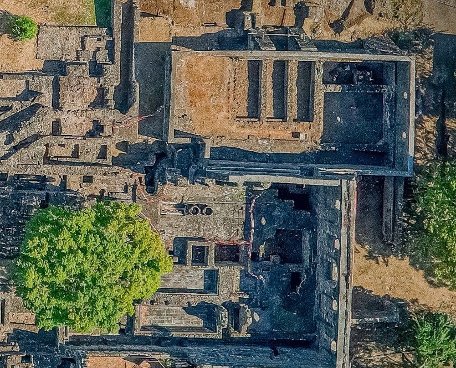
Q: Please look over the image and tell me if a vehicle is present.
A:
No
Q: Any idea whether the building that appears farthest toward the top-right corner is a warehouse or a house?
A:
warehouse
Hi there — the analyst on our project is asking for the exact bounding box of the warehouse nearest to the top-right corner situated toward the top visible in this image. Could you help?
[158,36,415,176]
